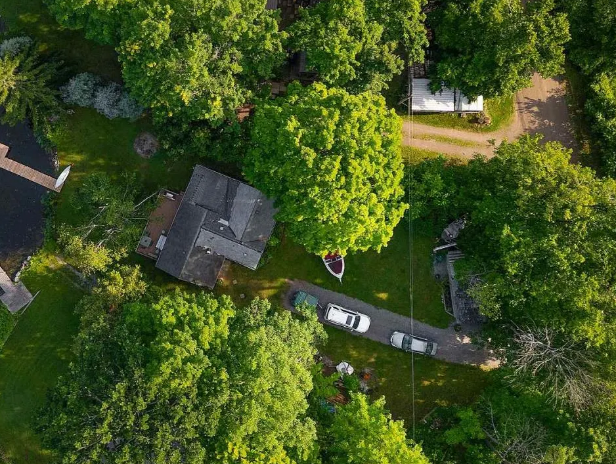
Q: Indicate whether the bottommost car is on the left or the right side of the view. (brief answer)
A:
right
